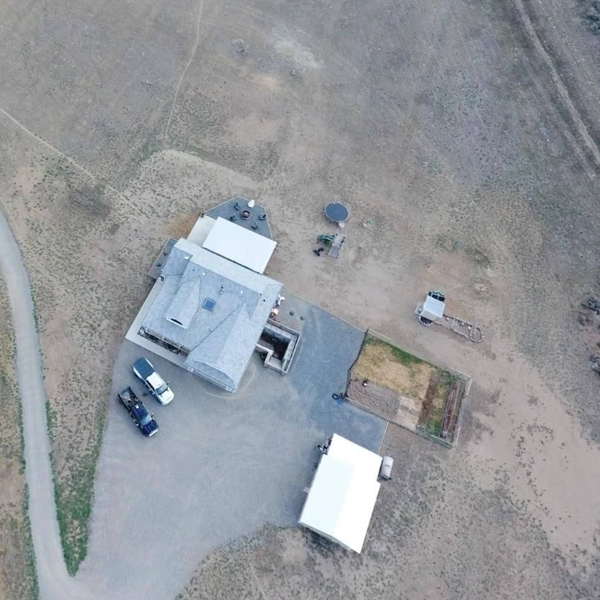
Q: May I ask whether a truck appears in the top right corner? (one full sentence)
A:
No, no truck appears in the top right corner.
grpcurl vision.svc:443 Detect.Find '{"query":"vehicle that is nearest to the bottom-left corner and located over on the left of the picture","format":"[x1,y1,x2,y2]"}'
[113,389,159,442]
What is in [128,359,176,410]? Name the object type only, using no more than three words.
truck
